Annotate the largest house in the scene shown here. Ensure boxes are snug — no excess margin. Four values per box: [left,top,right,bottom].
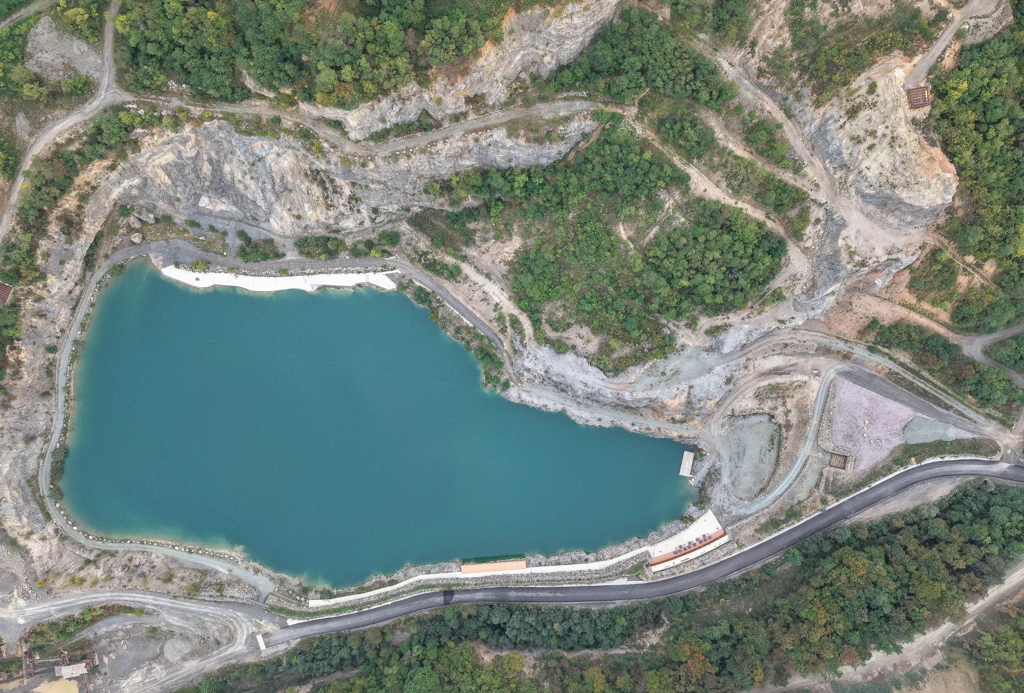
[55,663,88,679]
